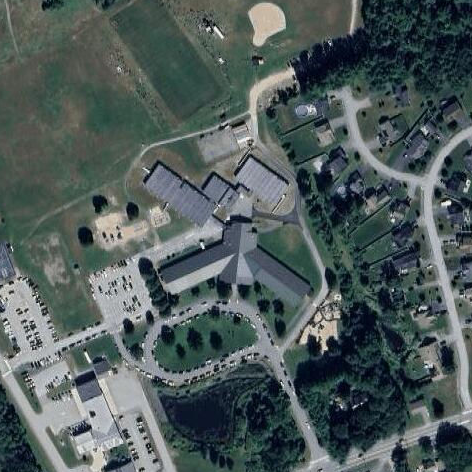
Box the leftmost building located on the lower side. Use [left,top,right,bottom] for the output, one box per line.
[72,362,122,458]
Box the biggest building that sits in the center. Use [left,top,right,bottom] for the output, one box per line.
[158,222,312,309]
